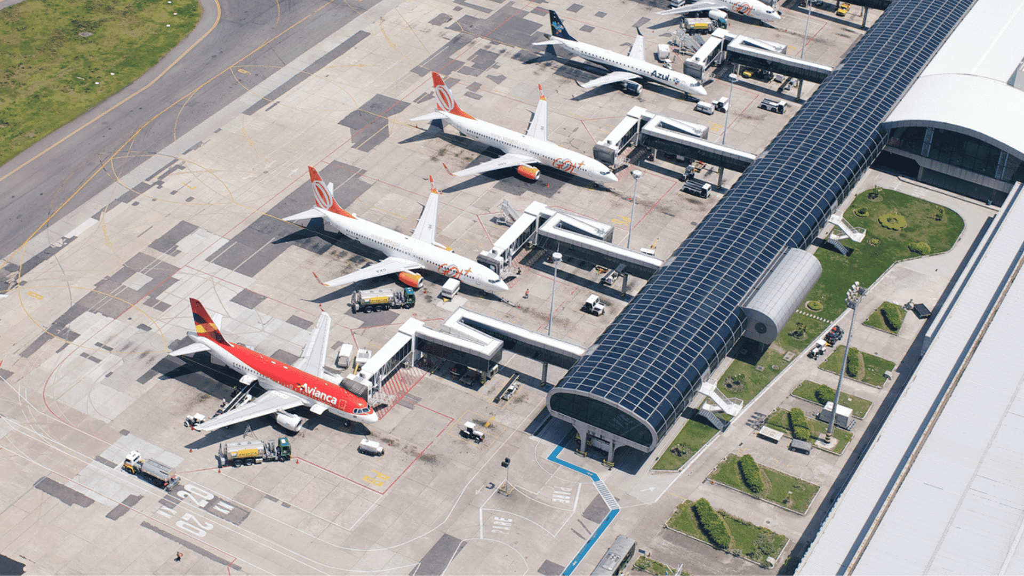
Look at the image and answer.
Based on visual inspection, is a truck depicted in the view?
Yes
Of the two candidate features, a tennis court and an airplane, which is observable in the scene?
airplane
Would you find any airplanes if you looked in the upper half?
Yes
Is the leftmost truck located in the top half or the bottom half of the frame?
bottom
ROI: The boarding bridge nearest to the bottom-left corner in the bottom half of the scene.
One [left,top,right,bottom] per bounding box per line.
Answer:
[346,307,587,422]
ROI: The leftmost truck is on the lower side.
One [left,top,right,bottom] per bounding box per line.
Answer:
[120,446,184,487]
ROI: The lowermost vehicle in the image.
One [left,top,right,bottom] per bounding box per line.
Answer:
[588,530,639,576]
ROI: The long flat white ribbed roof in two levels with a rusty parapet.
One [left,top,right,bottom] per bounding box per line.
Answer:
[793,178,1024,576]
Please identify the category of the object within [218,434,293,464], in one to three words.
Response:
truck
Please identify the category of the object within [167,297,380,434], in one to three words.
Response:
airplane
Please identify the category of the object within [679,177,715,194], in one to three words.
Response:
work vehicle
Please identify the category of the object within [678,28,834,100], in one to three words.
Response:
jet bridge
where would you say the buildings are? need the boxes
[545,0,982,469]
[793,178,1024,576]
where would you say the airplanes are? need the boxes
[281,166,506,296]
[167,297,380,434]
[410,72,614,188]
[530,10,709,102]
[647,0,780,24]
